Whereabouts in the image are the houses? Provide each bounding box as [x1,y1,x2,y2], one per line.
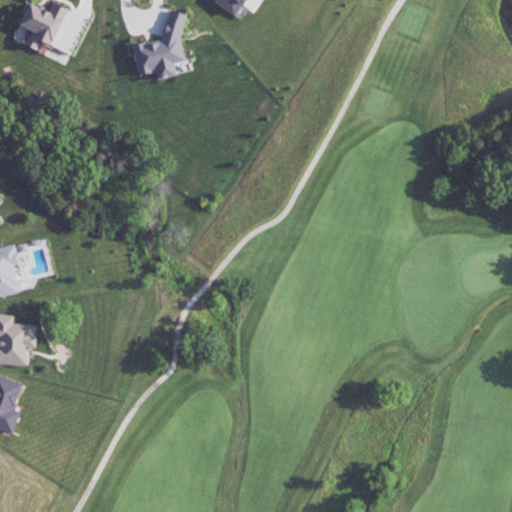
[0,371,26,437]
[12,0,71,42]
[208,0,252,20]
[0,314,36,369]
[130,6,190,80]
[0,240,23,298]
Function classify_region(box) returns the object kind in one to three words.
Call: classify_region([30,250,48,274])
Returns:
swimming pool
